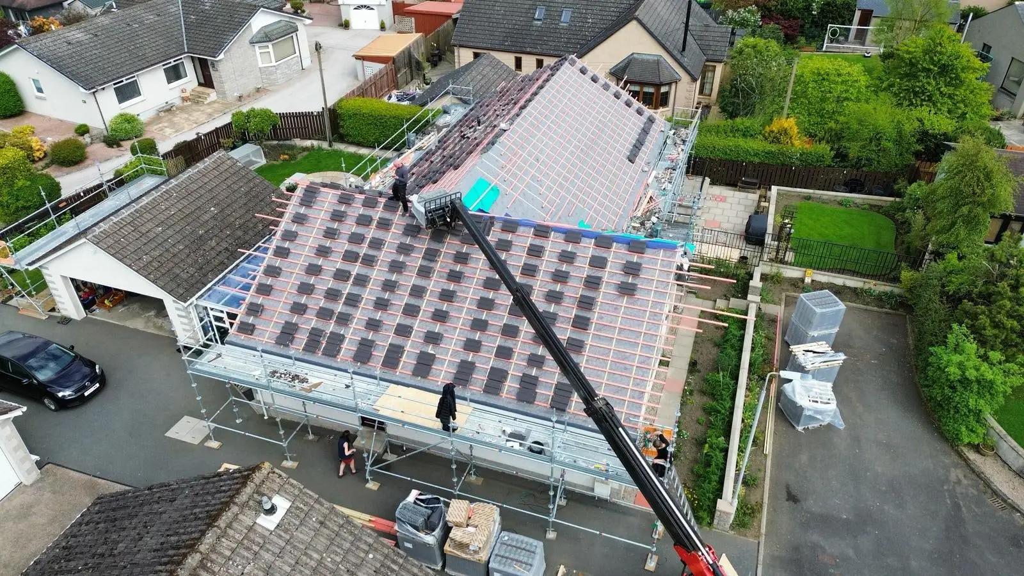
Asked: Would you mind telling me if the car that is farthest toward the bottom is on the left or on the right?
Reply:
left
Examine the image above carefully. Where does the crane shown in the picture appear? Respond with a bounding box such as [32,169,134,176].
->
[424,191,742,576]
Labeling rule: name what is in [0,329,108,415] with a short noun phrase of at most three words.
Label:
car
